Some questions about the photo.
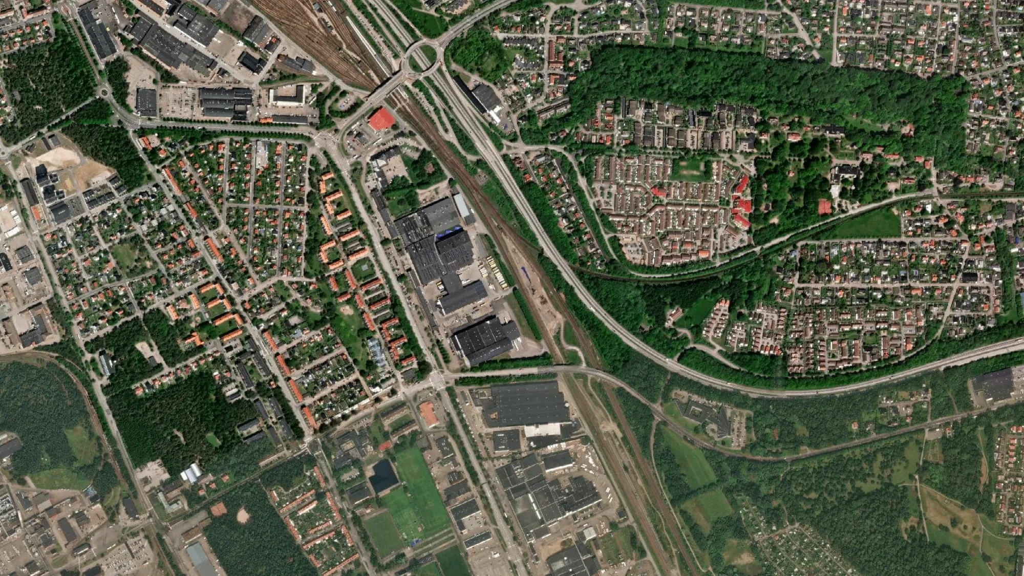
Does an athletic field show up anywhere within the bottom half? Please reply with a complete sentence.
Yes, an athletic field shows up within the bottom half.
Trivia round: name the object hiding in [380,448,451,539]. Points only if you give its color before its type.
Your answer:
green sports field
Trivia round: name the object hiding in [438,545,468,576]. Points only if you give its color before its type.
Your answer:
green soccer field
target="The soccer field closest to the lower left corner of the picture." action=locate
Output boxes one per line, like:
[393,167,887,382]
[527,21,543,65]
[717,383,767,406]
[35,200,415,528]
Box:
[365,510,403,558]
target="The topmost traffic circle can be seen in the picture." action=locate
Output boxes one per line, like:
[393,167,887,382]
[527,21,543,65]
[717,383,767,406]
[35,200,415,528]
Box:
[402,40,444,80]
